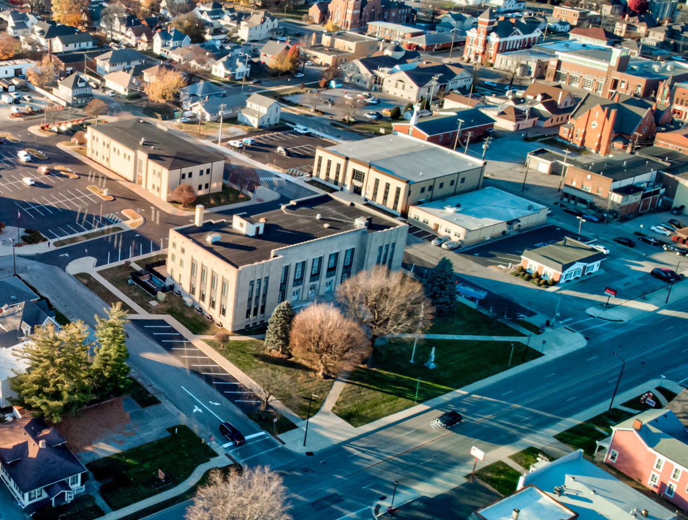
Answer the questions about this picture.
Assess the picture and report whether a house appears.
Yes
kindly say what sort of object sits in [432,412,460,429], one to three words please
car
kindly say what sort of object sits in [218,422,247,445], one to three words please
car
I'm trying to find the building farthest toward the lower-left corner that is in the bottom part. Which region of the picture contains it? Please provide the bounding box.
[0,417,92,507]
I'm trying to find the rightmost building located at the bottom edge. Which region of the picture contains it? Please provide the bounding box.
[603,403,688,507]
